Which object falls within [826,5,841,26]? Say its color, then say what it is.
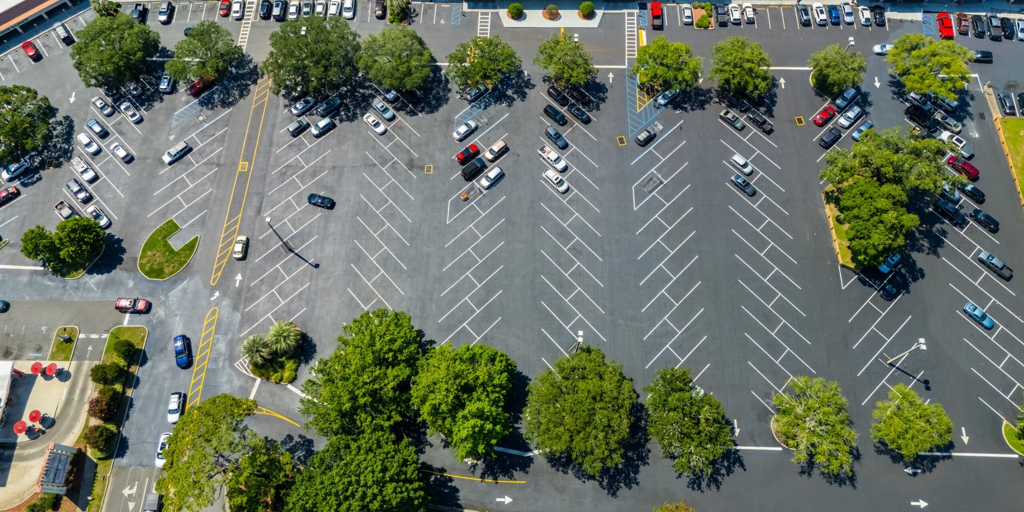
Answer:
blue car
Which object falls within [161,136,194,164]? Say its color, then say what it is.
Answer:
white truck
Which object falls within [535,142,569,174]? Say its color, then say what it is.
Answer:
white truck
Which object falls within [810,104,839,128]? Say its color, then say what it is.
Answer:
red car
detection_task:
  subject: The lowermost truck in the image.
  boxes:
[140,489,163,512]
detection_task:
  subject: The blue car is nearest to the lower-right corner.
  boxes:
[960,299,996,331]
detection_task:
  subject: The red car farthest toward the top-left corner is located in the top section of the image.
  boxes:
[21,41,42,63]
